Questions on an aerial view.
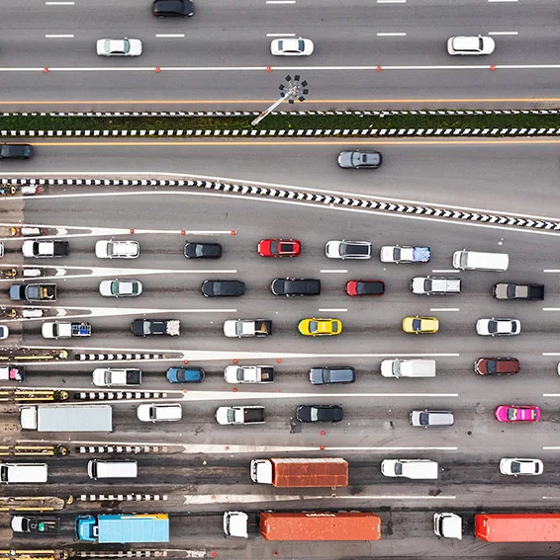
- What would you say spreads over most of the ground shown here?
paved ground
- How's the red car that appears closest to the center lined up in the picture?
horizontally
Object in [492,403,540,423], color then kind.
pink car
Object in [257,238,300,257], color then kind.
red car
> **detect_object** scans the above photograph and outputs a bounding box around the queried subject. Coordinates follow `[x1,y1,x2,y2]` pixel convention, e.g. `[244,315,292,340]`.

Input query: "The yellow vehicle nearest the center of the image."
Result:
[296,318,343,336]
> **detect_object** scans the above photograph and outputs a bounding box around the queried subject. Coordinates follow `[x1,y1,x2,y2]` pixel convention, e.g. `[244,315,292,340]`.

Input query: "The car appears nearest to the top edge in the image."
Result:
[152,0,195,19]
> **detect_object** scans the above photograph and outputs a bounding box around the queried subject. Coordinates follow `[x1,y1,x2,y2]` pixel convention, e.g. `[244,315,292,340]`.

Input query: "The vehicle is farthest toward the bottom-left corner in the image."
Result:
[10,514,61,534]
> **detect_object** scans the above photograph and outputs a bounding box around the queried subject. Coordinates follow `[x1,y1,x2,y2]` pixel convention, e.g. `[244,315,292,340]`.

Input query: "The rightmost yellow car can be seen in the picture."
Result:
[400,315,439,334]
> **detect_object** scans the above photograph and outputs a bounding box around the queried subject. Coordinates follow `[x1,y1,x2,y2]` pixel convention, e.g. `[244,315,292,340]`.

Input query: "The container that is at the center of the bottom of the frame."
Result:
[260,514,381,540]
